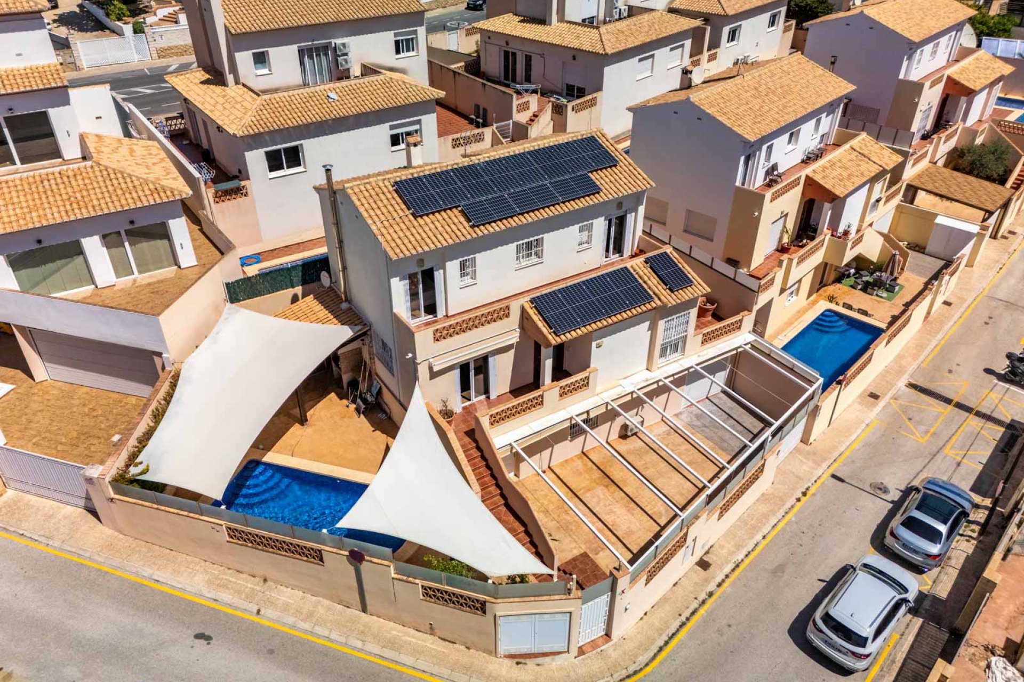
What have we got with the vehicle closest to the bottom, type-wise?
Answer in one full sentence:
I'd say the vehicle closest to the bottom is a car.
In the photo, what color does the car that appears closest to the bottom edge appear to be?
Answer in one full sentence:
The color of the car that appears closest to the bottom edge is white.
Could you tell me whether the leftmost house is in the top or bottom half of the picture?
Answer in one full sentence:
It is in the top half that the leftmost house appears.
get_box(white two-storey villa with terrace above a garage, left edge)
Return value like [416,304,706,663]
[0,0,246,392]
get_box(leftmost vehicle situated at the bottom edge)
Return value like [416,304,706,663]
[809,551,924,680]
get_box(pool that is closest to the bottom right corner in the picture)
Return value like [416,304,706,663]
[775,306,882,382]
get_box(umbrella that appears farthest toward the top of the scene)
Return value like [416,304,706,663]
[886,229,913,270]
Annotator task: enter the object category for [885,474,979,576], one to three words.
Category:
car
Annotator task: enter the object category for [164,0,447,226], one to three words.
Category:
house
